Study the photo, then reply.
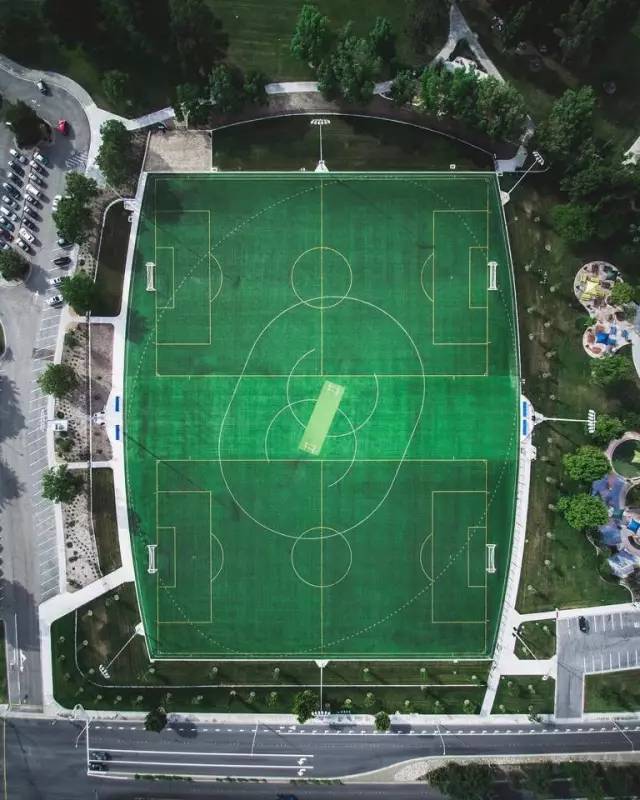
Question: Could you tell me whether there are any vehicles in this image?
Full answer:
Yes, a vehicle is visible in the scene.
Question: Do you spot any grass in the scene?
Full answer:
Yes, the picture does contain grass.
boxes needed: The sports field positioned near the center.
[123,173,520,659]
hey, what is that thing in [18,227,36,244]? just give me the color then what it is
white vehicle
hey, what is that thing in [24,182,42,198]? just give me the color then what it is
white vehicle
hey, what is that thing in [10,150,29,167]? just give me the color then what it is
gray vehicle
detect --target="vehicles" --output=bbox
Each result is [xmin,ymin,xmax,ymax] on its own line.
[52,193,63,210]
[0,204,20,221]
[32,150,49,166]
[0,216,16,230]
[54,256,72,266]
[3,195,20,210]
[24,182,42,198]
[91,750,109,759]
[46,294,64,305]
[0,227,14,242]
[18,227,36,244]
[3,182,23,199]
[23,204,39,219]
[56,240,72,248]
[22,216,37,230]
[59,120,67,136]
[90,762,106,771]
[8,161,25,177]
[28,171,45,186]
[7,171,23,186]
[577,615,588,633]
[10,150,29,167]
[24,194,41,209]
[30,160,46,174]
[16,238,31,253]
